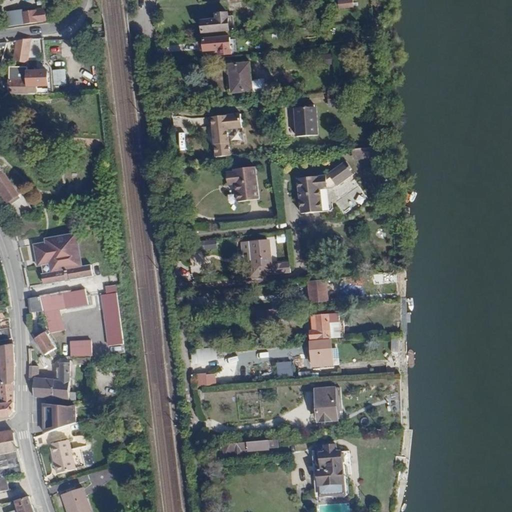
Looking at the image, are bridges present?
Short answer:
No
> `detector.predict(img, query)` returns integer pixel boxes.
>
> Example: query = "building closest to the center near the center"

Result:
[241,238,272,284]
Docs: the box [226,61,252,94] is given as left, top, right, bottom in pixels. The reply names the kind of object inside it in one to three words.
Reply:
house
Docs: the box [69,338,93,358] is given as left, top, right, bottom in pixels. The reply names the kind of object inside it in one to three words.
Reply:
building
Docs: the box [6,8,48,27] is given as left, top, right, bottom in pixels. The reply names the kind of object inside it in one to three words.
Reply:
building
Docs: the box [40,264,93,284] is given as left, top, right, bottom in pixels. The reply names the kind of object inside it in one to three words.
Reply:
shed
